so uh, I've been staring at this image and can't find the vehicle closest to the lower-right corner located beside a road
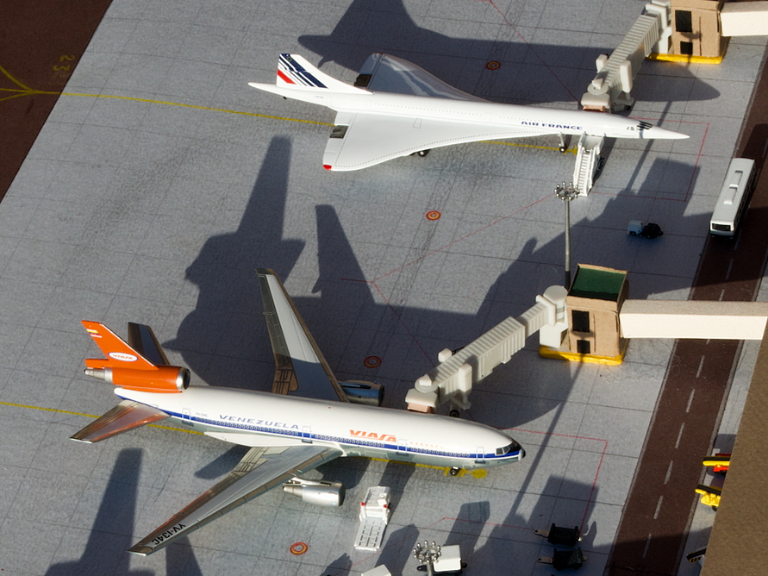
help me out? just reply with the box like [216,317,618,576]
[685,553,706,574]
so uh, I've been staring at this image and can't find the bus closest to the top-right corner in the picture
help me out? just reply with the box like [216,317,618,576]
[711,159,754,238]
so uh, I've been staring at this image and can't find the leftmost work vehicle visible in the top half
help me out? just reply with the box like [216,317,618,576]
[628,213,667,236]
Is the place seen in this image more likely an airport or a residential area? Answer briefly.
airport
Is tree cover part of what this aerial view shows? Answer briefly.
No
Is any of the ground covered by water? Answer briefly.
No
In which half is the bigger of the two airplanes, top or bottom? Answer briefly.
bottom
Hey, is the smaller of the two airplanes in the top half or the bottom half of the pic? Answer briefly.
top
